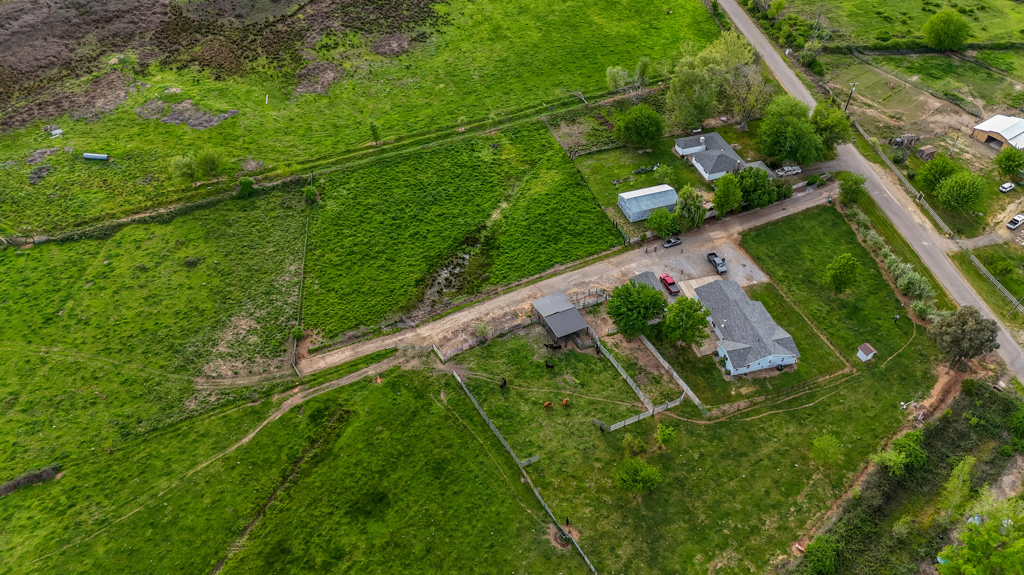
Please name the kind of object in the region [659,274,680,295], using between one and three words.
truck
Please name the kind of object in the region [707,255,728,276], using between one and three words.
truck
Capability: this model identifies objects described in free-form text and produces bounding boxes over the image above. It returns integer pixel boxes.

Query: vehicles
[707,255,728,276]
[999,182,1016,192]
[776,165,799,177]
[662,237,683,248]
[1006,214,1024,229]
[659,274,680,295]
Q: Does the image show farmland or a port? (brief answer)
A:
farmland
